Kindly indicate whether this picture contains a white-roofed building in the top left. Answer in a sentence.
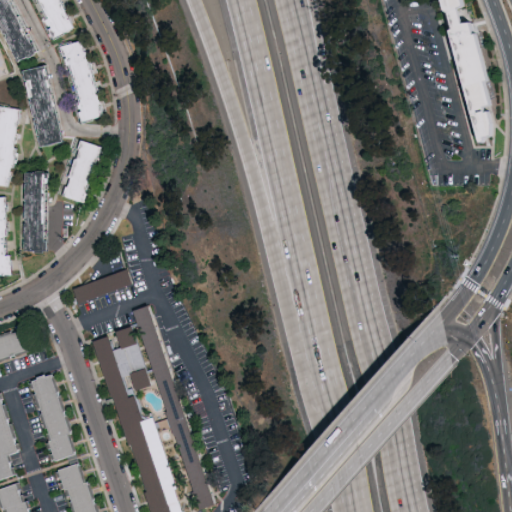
Yes, you'll find a white-roofed building in the top left.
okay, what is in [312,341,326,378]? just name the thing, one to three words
vehicle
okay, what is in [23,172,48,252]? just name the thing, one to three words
building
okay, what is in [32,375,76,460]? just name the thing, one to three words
building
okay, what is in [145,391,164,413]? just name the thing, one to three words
swimming pool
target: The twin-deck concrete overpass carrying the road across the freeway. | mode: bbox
[253,307,458,512]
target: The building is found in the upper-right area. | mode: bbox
[437,0,498,144]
